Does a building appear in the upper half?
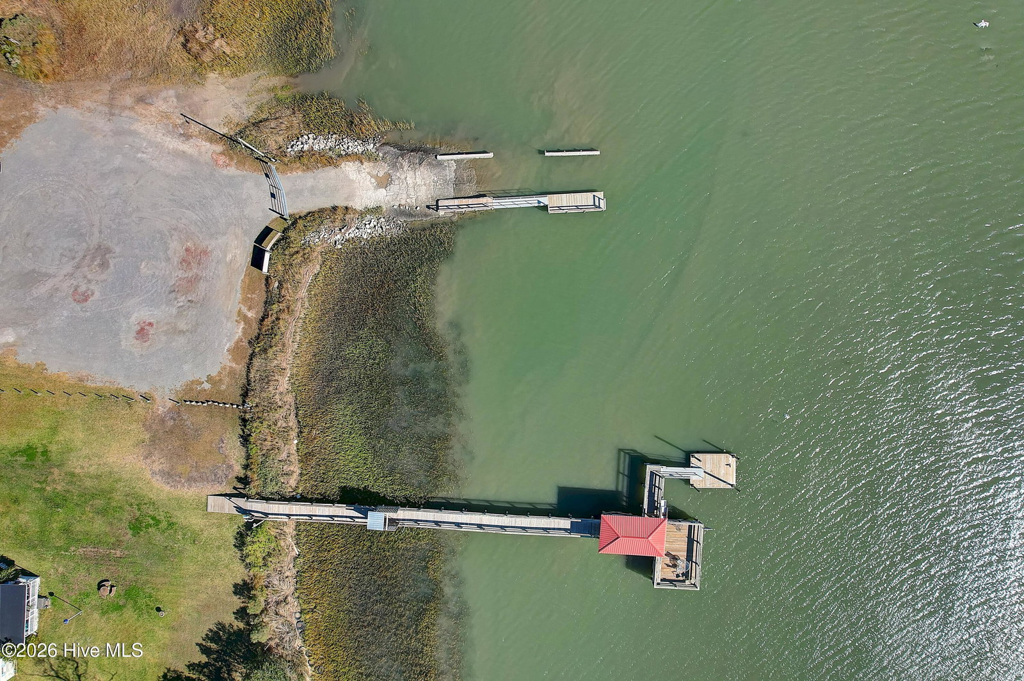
No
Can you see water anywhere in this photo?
Yes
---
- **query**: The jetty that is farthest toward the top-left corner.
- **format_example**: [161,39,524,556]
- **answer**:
[437,196,494,214]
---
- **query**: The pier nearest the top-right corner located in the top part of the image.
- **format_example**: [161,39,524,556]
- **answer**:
[547,190,606,214]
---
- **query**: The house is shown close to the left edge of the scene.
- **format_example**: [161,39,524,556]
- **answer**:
[0,576,52,647]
